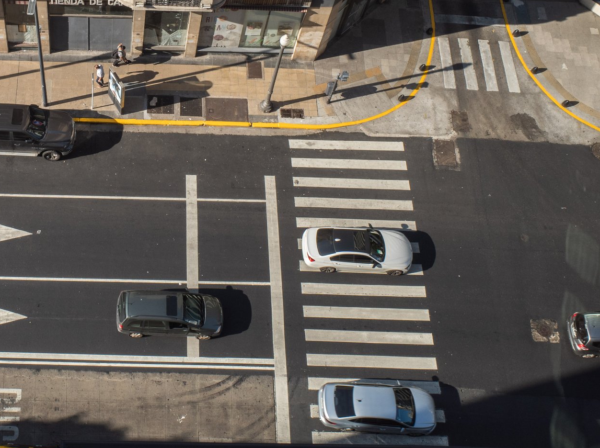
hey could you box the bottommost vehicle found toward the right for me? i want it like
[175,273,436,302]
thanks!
[316,378,439,436]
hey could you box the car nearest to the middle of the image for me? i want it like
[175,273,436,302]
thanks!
[299,222,414,275]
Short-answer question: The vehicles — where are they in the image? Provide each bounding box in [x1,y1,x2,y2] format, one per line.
[316,378,439,436]
[299,222,414,275]
[561,311,600,359]
[0,99,78,158]
[116,287,225,339]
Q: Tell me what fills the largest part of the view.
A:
paved ground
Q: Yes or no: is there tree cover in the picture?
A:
No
